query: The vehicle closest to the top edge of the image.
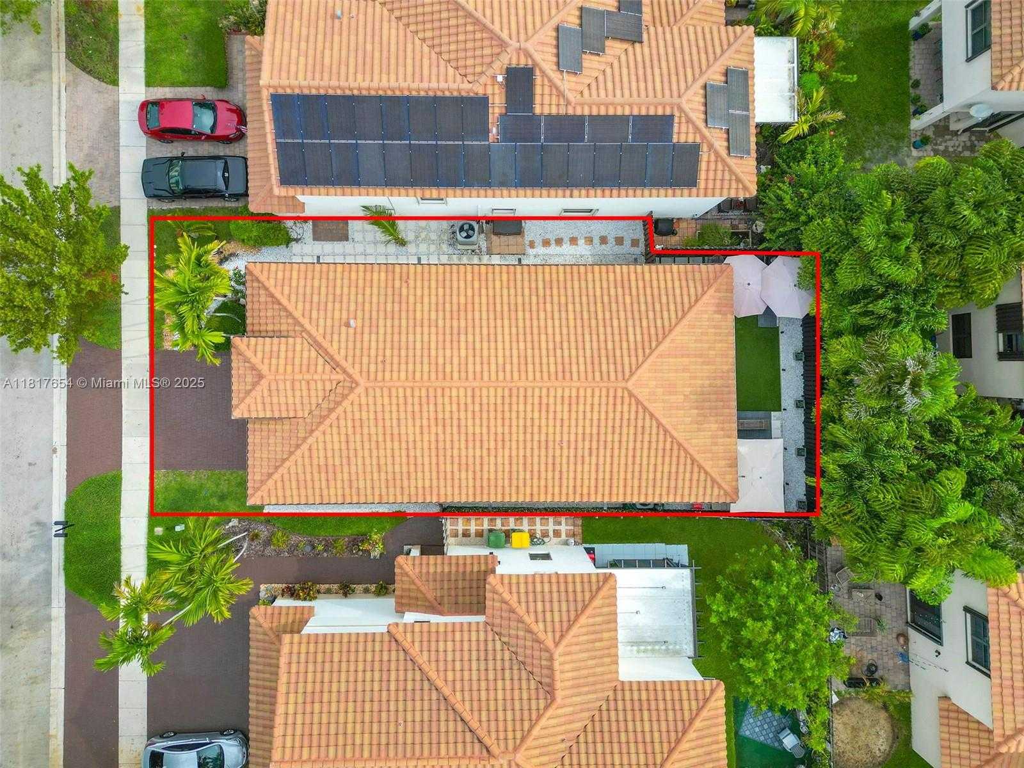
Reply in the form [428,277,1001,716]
[139,90,246,142]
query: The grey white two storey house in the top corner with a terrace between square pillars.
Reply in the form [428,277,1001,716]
[912,0,1024,166]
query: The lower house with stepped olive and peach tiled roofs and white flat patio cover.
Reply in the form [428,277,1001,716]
[248,546,731,768]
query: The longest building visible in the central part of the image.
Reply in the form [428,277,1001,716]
[228,260,742,508]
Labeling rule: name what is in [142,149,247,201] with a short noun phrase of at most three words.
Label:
car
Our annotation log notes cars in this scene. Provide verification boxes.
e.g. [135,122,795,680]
[142,727,250,768]
[139,90,246,142]
[142,149,247,201]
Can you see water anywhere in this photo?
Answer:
No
